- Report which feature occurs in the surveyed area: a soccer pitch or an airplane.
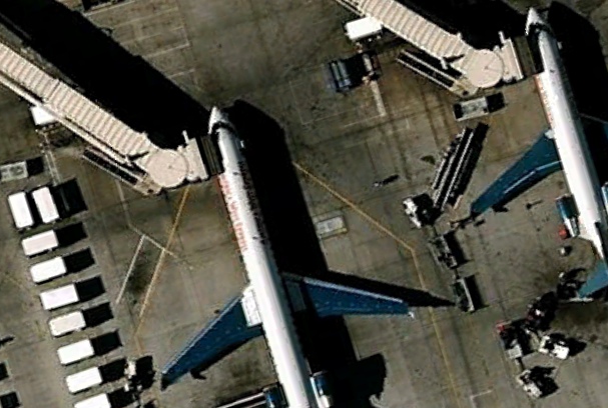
airplane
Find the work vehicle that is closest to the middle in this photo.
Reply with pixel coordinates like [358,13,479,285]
[401,197,423,225]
